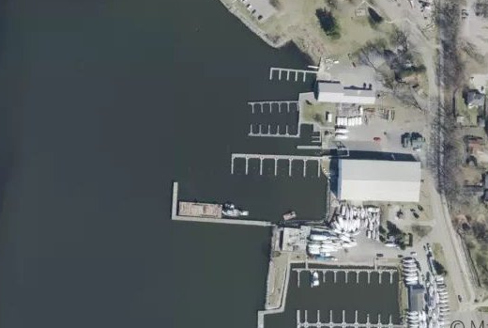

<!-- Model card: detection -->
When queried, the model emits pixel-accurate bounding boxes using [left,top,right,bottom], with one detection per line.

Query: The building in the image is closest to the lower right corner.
[408,287,424,311]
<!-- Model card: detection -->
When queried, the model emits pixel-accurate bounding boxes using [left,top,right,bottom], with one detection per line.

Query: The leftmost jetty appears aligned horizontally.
[171,182,271,227]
